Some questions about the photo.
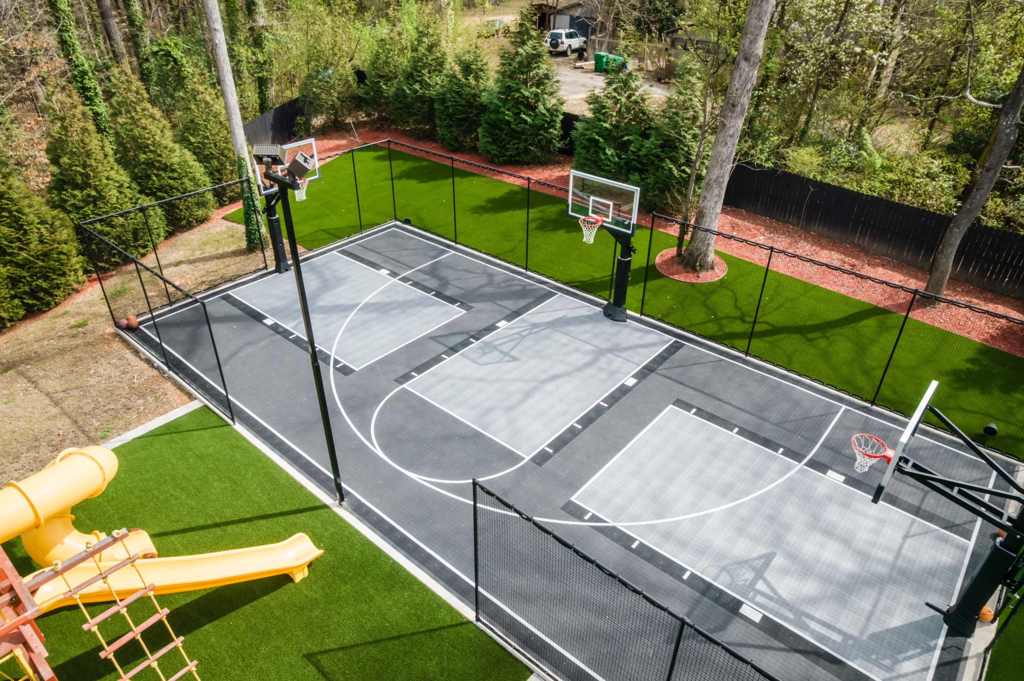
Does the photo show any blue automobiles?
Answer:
No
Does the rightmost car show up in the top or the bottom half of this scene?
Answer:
top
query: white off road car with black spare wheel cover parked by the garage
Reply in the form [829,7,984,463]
[544,26,588,56]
